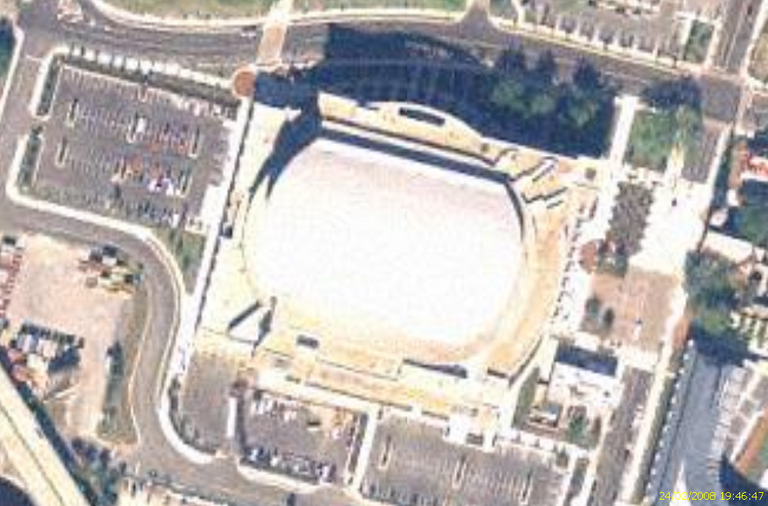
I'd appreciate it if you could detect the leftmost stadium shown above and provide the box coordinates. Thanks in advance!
[200,94,606,451]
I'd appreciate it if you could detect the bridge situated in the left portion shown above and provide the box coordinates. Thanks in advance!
[0,372,88,506]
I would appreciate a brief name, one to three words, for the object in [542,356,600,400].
building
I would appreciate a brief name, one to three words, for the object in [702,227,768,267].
building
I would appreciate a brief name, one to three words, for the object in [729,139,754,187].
house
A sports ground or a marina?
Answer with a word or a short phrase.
sports ground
